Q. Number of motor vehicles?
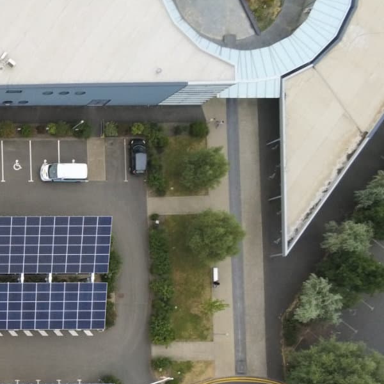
two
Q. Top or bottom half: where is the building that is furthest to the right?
top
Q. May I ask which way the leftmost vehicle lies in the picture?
from side to side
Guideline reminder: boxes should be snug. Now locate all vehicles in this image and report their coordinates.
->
[128,139,149,175]
[40,162,89,182]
